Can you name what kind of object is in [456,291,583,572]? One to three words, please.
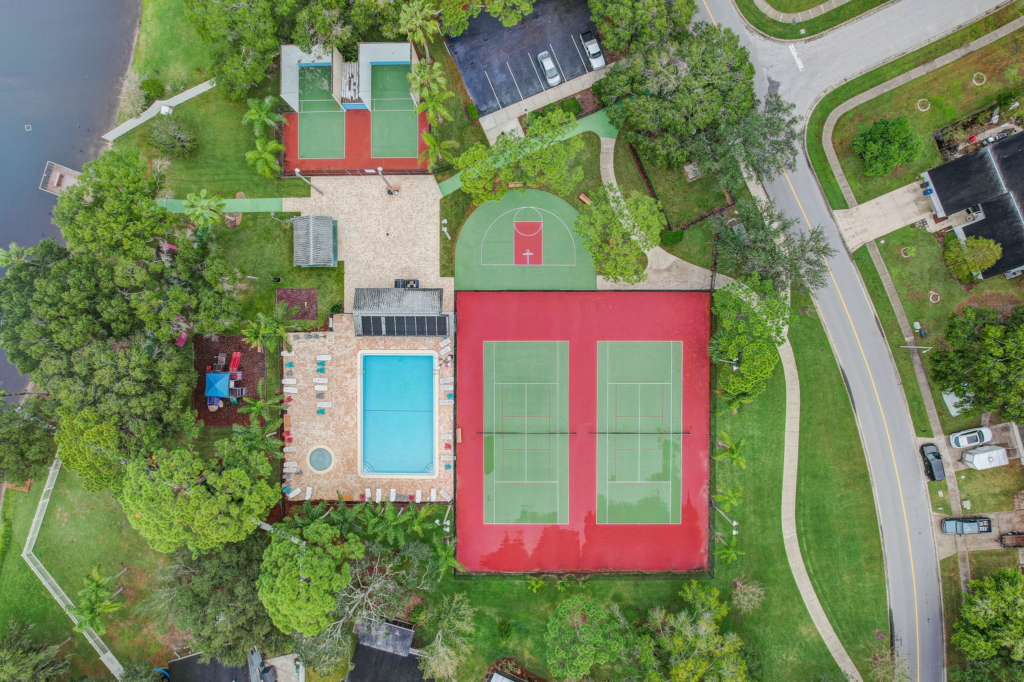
tennis court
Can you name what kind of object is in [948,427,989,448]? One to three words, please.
car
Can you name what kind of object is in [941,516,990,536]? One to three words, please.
vehicle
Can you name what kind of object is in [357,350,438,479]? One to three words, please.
swimming pool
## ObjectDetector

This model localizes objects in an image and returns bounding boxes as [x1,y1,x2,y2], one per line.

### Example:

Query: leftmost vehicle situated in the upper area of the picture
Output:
[536,49,560,89]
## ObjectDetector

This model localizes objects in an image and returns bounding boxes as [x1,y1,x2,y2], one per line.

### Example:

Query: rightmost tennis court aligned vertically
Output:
[583,291,710,572]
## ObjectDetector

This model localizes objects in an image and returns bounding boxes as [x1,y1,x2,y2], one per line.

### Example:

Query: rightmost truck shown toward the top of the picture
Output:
[577,26,606,73]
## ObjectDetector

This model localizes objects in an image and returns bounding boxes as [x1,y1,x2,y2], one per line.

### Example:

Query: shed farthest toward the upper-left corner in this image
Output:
[342,60,368,111]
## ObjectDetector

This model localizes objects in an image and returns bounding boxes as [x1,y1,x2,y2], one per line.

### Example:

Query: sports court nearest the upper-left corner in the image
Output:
[279,42,358,173]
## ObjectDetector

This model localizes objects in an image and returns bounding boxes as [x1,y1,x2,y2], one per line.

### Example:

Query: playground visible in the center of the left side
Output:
[206,352,252,410]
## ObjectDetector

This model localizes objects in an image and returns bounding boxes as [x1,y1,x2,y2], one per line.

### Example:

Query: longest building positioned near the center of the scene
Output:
[353,288,454,336]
